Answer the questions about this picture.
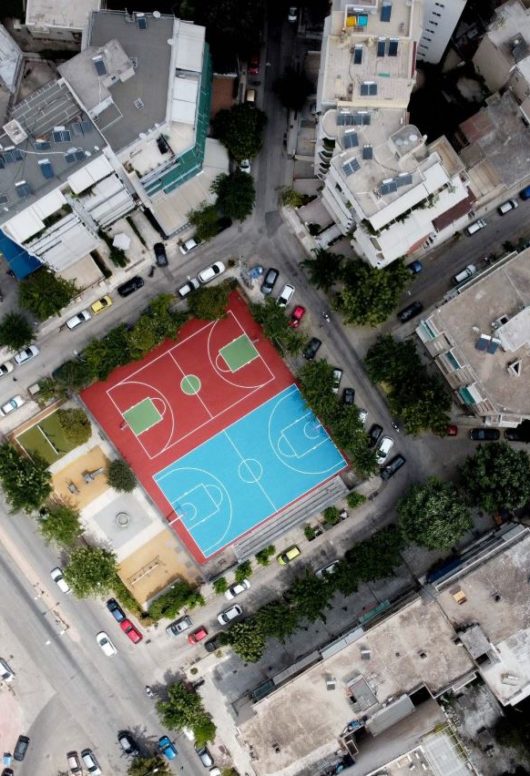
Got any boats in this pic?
No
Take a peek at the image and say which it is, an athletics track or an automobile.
automobile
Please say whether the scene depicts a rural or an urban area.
urban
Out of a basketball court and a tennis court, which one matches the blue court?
basketball court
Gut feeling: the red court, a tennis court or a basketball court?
basketball court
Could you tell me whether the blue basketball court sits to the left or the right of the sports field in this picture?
on its right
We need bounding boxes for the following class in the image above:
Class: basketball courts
[80,292,349,564]
[153,385,347,556]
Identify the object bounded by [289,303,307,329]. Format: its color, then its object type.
red car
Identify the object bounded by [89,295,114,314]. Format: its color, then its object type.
yellow car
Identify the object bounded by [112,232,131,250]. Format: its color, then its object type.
white umbrella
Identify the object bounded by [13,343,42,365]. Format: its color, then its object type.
white car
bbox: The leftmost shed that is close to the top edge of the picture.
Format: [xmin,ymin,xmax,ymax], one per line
[0,23,37,103]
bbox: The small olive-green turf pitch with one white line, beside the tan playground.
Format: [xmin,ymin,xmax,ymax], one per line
[16,408,86,468]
